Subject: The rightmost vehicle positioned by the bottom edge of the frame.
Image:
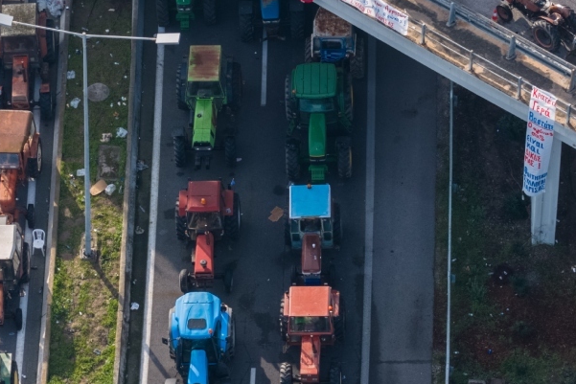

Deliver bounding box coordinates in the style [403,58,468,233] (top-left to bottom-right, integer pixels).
[279,283,346,384]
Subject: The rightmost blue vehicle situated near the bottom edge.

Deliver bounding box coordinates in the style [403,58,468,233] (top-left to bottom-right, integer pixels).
[163,287,237,384]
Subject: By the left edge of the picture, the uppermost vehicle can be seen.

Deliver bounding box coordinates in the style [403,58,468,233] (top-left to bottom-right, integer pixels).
[0,0,55,119]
